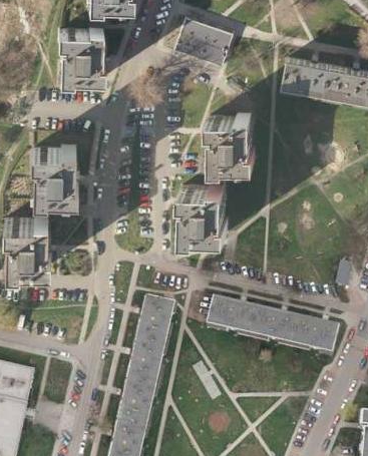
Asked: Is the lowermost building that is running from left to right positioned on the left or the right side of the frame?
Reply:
right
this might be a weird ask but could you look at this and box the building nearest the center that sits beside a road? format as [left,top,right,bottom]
[174,184,227,253]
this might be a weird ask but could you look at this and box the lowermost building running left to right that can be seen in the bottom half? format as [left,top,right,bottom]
[208,292,340,351]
